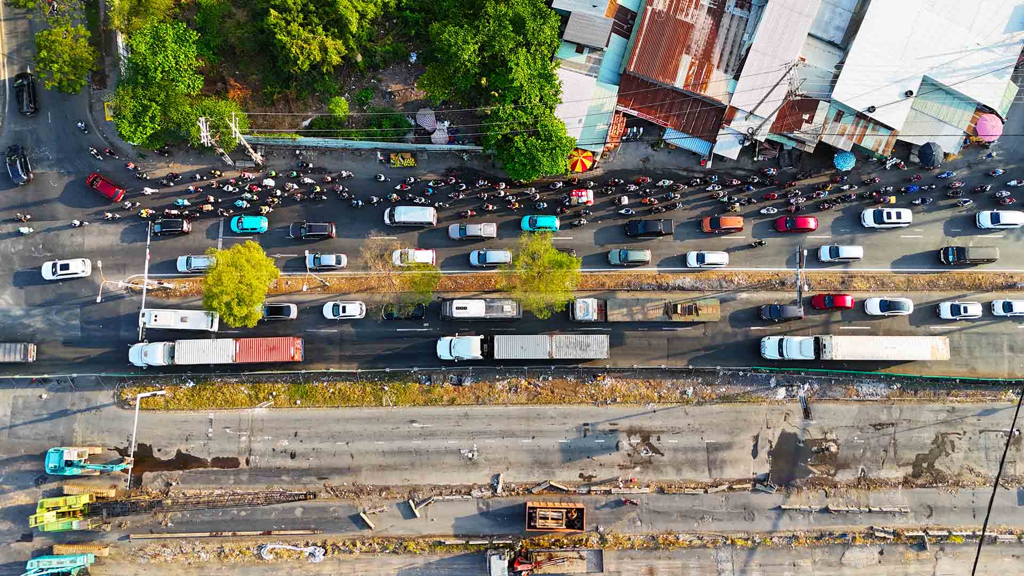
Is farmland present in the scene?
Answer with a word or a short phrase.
No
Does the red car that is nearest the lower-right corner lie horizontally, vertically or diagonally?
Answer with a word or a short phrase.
horizontally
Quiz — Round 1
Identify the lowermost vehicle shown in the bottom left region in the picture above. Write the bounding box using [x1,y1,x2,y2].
[45,445,138,476]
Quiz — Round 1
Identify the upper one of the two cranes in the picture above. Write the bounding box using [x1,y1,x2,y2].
[29,484,316,534]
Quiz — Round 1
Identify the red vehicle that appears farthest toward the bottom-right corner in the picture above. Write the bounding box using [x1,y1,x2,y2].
[811,292,855,312]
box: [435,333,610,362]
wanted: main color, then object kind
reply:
white truck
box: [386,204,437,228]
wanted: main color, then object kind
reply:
white vehicle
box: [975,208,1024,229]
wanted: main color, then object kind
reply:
white car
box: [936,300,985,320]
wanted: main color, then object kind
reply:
white car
